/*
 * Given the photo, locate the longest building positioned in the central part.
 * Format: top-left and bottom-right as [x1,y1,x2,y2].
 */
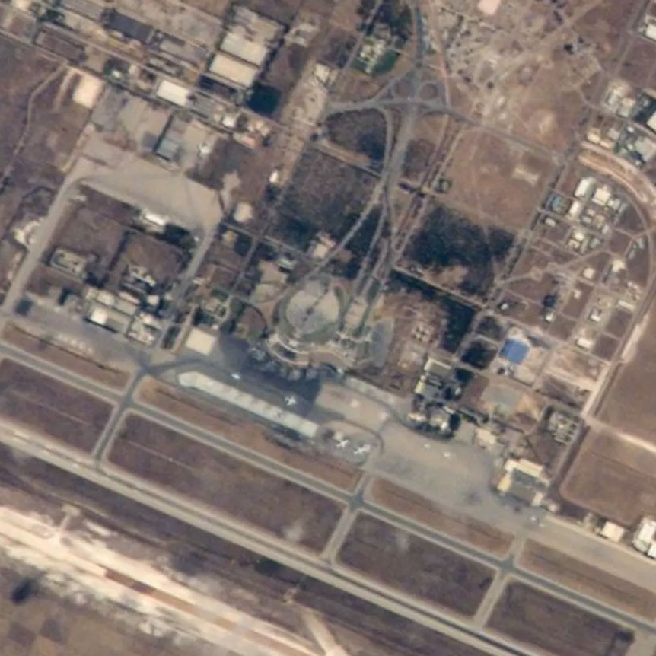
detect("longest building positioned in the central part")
[266,331,370,373]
